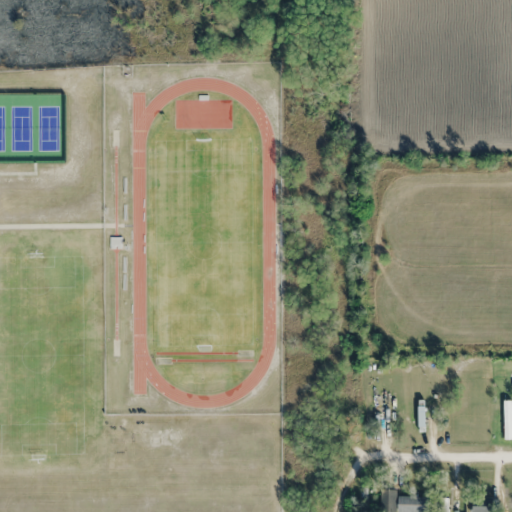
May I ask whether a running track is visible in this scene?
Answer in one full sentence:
Yes, there is a running track in the image.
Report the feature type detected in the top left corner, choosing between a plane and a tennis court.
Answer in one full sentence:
It is a tennis court that can be seen in the top left corner.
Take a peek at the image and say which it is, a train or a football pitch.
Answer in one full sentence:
There is a football pitch in the scene.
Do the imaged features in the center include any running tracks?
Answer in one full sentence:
Yes, looking in the center, one can make out a running track.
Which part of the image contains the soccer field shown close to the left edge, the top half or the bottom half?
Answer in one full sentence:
Seen from above, the soccer field shown close to the left edge lies in the bottom half of the view.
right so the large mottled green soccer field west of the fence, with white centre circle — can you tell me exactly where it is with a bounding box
[0,254,86,457]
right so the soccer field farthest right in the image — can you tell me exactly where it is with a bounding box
[146,90,263,395]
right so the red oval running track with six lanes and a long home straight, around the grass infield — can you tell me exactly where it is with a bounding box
[134,78,276,408]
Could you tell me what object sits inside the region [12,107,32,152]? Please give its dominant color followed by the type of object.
blue tennis court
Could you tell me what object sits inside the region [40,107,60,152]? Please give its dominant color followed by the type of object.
blue tennis court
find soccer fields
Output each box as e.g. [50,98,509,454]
[146,90,263,395]
[0,254,86,457]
